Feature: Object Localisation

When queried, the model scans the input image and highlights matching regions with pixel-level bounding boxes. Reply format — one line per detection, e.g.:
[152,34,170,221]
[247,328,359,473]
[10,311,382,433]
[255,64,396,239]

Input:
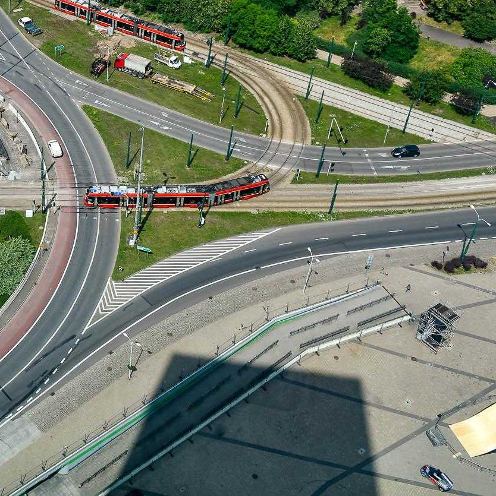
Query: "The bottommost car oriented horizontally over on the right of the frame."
[394,142,421,156]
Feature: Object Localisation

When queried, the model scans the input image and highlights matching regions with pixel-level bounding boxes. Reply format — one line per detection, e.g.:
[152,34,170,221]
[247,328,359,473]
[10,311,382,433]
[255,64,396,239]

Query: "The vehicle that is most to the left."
[20,14,42,32]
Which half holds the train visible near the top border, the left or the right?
left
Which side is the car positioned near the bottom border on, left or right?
right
